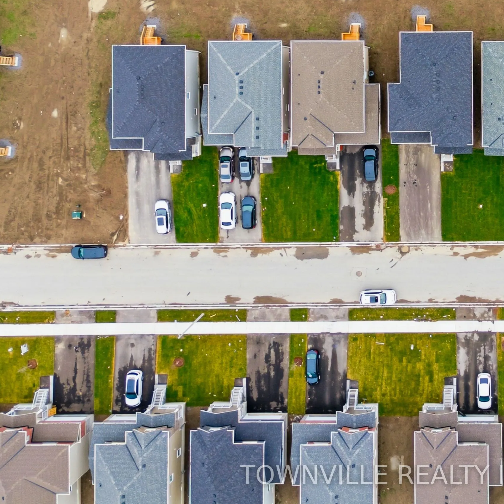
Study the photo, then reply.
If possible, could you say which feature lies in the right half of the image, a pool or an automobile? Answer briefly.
automobile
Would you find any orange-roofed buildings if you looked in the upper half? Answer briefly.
No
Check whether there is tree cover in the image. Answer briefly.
No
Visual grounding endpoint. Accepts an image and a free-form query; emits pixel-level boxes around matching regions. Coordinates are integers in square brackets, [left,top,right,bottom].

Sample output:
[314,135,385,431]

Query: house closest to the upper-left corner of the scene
[110,45,201,180]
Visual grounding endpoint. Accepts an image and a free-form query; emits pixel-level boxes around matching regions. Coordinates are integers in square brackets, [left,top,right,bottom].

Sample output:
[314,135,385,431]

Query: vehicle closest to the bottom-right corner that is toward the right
[476,372,493,409]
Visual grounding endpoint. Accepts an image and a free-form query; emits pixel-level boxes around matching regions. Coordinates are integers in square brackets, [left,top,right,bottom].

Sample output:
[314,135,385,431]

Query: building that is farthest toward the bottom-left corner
[0,377,93,504]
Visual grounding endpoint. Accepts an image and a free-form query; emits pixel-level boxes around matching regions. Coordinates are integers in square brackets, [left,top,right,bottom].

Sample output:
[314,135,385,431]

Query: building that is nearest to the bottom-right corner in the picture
[414,374,503,504]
